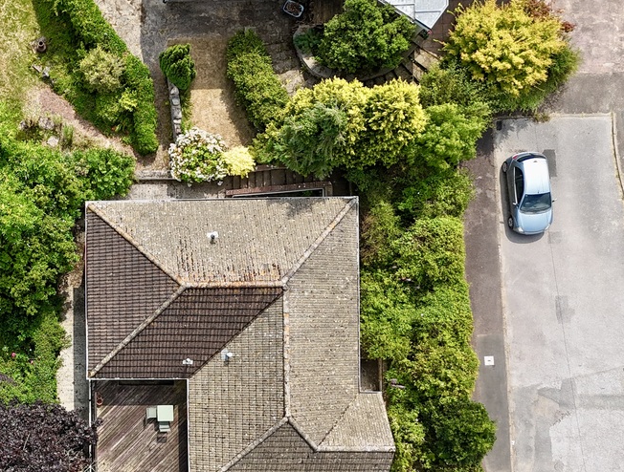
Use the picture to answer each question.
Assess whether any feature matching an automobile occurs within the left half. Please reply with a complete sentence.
No, I can find no automobile within the left half.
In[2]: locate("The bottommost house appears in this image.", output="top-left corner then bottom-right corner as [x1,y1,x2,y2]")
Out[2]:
[84,195,396,472]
